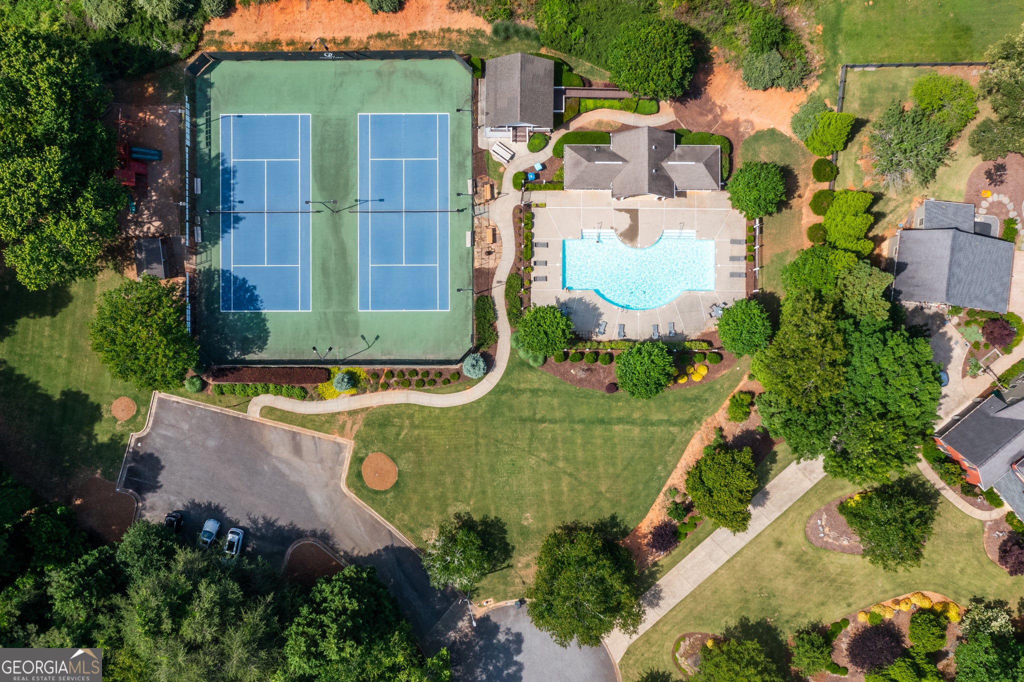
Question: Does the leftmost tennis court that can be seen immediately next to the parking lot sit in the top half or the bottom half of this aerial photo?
top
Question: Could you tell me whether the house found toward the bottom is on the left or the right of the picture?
right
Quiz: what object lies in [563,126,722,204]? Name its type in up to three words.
building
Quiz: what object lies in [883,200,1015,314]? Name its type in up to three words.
building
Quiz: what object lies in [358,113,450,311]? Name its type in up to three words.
tennis court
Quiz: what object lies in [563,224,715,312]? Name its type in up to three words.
swimming pool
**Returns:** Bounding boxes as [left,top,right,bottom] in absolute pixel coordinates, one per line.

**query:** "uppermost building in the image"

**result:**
[485,51,566,143]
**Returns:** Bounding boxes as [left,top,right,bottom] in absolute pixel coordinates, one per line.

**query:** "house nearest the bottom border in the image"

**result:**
[932,371,1024,524]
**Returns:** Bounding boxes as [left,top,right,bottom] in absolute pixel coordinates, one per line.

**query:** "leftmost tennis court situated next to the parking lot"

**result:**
[220,114,311,311]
